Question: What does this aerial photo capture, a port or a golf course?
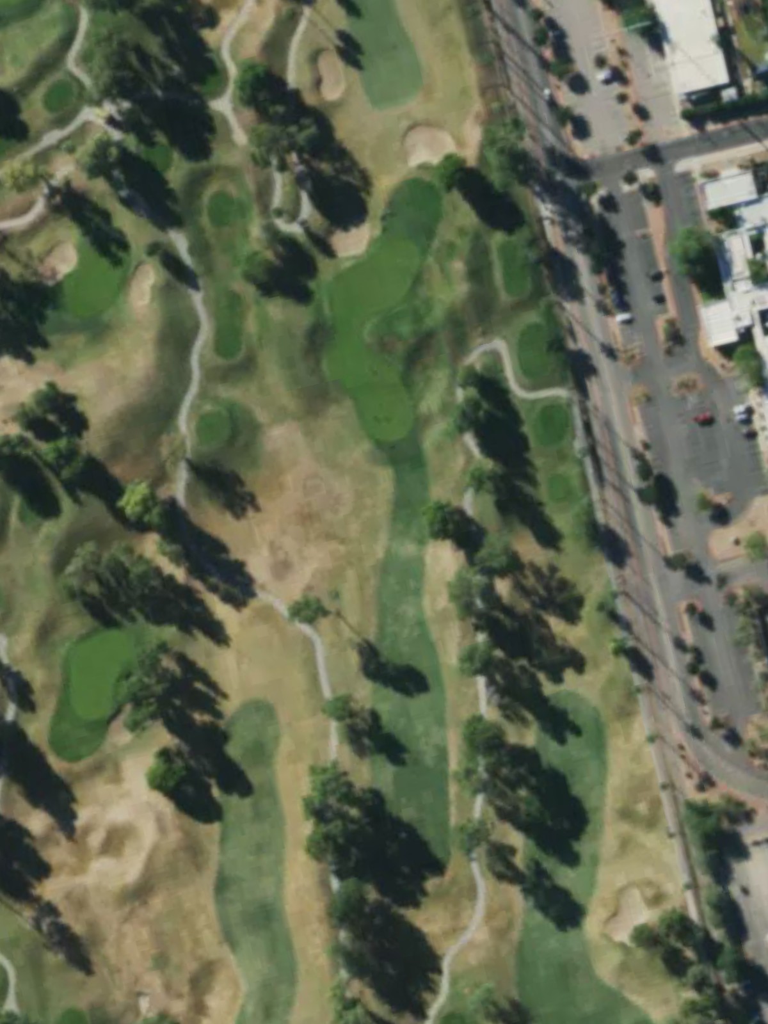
golf course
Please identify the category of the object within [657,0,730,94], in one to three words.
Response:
building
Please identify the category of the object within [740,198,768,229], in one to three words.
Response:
building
